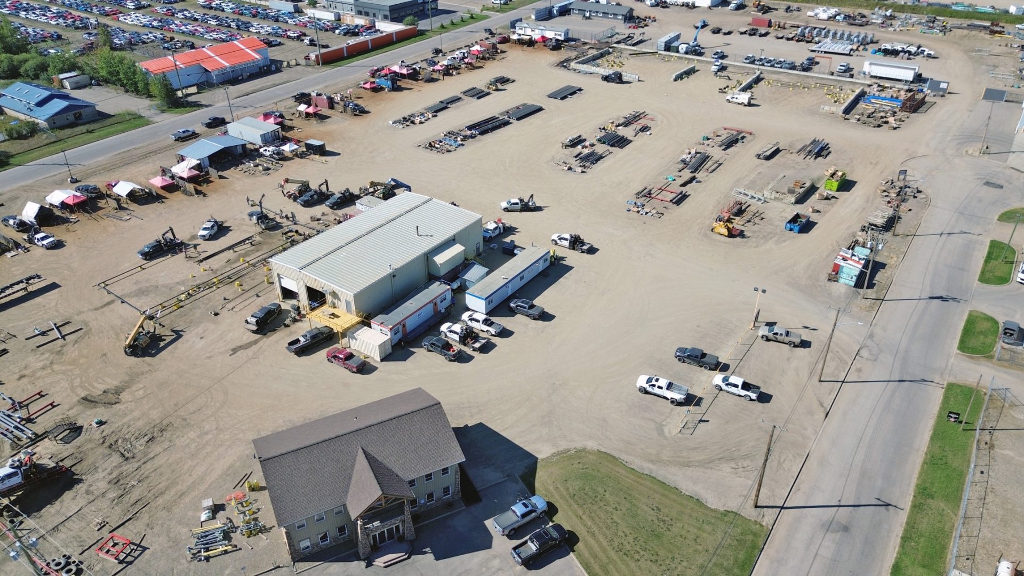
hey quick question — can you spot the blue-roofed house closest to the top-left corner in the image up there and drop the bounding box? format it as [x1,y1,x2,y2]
[4,81,108,129]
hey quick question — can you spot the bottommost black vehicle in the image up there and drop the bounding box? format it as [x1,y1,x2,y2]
[507,525,573,568]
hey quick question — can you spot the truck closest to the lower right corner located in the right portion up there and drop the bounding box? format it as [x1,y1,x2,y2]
[999,320,1022,352]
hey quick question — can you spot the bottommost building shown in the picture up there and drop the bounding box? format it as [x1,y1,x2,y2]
[249,388,466,568]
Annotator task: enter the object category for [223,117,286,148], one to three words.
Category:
building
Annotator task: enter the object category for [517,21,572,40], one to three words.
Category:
house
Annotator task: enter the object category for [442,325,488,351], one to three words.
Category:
truck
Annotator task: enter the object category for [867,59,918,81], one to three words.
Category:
trailer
